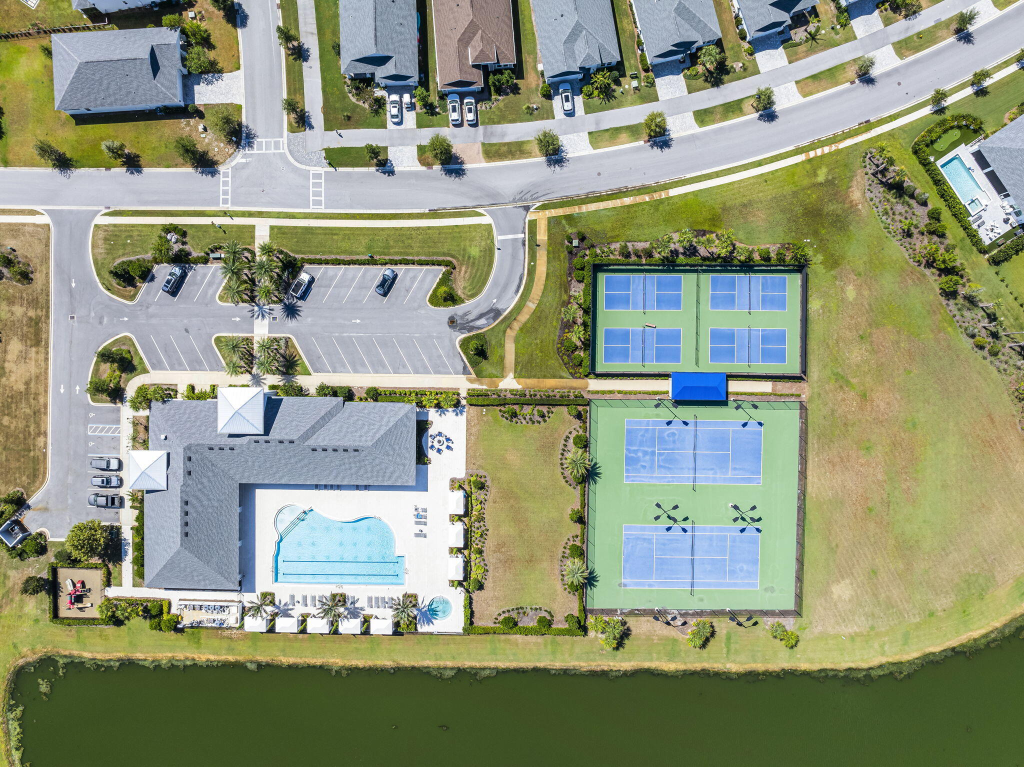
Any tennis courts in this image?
Yes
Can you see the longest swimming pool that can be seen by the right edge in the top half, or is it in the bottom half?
top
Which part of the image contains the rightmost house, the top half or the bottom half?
top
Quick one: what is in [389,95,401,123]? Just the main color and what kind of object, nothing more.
white vehicle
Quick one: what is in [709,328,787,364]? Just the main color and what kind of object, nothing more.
blue sports court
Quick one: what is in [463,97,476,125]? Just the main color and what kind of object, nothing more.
white vehicle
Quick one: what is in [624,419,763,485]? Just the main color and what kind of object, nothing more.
blue tennis court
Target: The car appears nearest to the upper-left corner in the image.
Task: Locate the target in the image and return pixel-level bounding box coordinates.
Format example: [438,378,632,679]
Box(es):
[161,265,186,295]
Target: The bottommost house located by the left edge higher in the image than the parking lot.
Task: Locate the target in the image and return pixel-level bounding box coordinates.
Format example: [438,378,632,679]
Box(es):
[51,27,194,114]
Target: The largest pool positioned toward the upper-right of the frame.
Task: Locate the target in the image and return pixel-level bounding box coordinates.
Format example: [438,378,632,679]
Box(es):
[937,151,995,210]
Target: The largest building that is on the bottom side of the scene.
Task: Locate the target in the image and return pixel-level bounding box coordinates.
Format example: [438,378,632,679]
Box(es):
[129,387,416,590]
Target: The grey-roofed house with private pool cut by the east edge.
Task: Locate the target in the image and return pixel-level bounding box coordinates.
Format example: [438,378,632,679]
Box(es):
[960,116,1024,230]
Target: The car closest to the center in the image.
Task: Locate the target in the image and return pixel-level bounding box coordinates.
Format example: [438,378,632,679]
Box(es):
[376,268,397,297]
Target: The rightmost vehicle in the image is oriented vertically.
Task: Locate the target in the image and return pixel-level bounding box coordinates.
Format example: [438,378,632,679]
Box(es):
[559,84,573,114]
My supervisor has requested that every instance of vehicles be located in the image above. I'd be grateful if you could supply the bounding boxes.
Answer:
[402,93,411,111]
[90,457,123,471]
[290,271,314,300]
[376,268,397,297]
[559,84,573,114]
[463,97,476,125]
[89,494,122,508]
[91,475,122,488]
[448,95,461,125]
[389,95,401,123]
[161,265,186,295]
